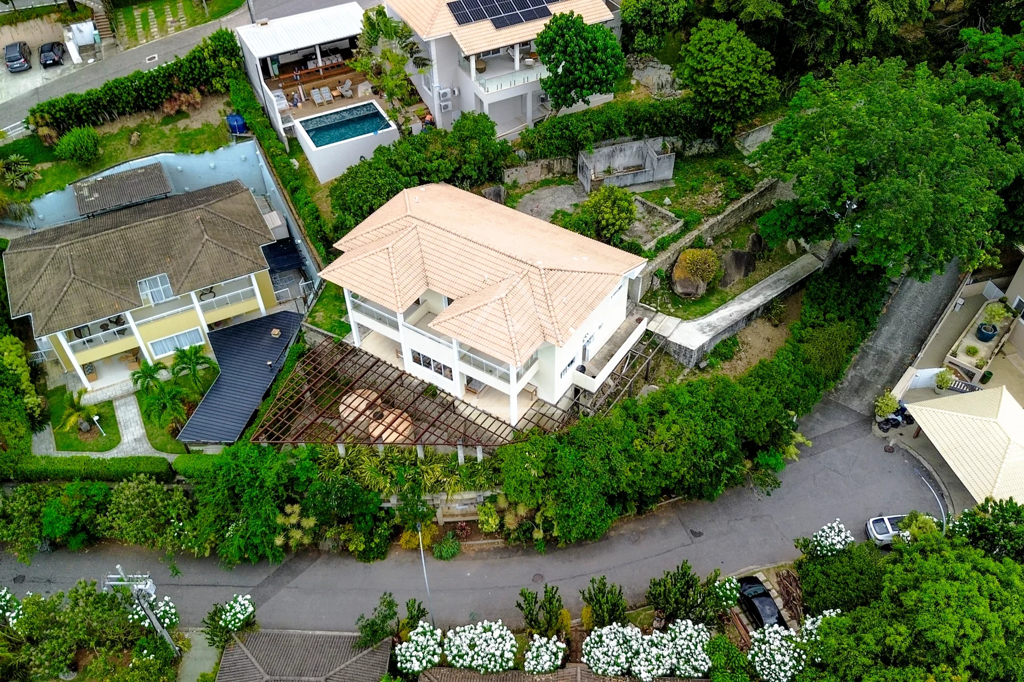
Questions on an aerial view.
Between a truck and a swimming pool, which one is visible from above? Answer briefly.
swimming pool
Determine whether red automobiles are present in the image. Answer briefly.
No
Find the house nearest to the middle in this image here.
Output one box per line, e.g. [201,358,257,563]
[317,182,646,441]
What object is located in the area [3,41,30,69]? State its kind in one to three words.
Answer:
car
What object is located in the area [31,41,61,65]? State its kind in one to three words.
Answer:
car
